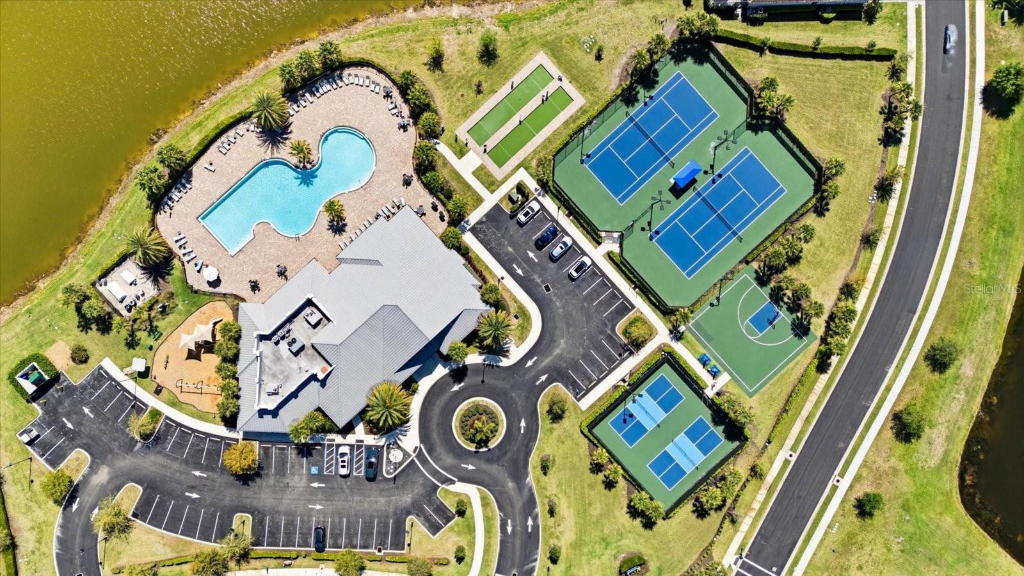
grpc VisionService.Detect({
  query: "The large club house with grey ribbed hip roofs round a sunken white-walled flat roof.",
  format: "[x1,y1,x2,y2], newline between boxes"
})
[238,204,493,432]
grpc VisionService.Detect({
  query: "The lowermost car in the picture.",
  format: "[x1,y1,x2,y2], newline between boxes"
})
[313,525,327,552]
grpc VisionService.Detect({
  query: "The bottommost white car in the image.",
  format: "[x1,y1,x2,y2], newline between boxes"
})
[338,446,351,474]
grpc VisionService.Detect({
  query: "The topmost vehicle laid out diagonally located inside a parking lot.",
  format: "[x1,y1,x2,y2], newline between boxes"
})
[516,201,541,224]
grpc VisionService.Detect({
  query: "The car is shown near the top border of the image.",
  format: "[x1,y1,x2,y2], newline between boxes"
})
[944,26,959,52]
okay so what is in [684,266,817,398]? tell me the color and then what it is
green basketball court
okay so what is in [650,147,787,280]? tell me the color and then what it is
blue tennis court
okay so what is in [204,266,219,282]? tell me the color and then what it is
white umbrella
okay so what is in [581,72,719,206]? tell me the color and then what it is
blue tennis court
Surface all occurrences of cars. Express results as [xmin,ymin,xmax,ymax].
[534,226,558,250]
[338,446,351,474]
[365,449,378,478]
[313,525,327,552]
[568,256,593,279]
[516,201,541,224]
[944,26,959,52]
[549,238,573,262]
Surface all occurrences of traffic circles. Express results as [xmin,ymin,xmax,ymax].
[452,397,506,451]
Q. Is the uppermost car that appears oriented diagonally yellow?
No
